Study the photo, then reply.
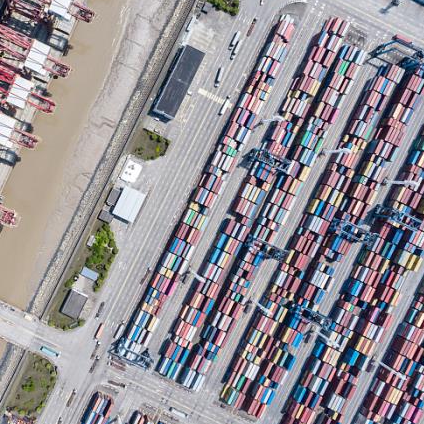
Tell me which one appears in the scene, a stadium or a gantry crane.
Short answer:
gantry crane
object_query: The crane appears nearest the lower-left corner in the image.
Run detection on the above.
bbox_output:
[104,330,156,374]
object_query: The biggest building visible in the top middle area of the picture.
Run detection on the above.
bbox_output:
[153,44,206,118]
